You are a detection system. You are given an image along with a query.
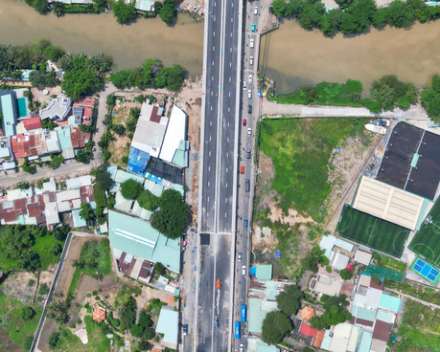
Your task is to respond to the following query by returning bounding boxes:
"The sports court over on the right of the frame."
[410,256,440,285]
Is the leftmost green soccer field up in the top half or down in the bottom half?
bottom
